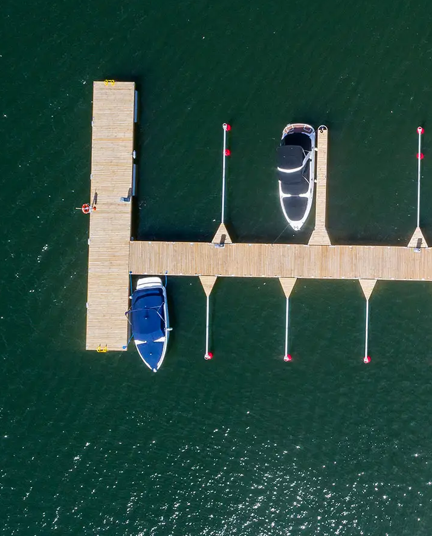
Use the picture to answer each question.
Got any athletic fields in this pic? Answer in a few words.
No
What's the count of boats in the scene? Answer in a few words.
2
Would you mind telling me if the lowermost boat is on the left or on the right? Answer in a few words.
left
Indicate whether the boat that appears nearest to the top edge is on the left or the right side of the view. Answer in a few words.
right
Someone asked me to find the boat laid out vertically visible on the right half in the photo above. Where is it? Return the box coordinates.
[272,124,322,245]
